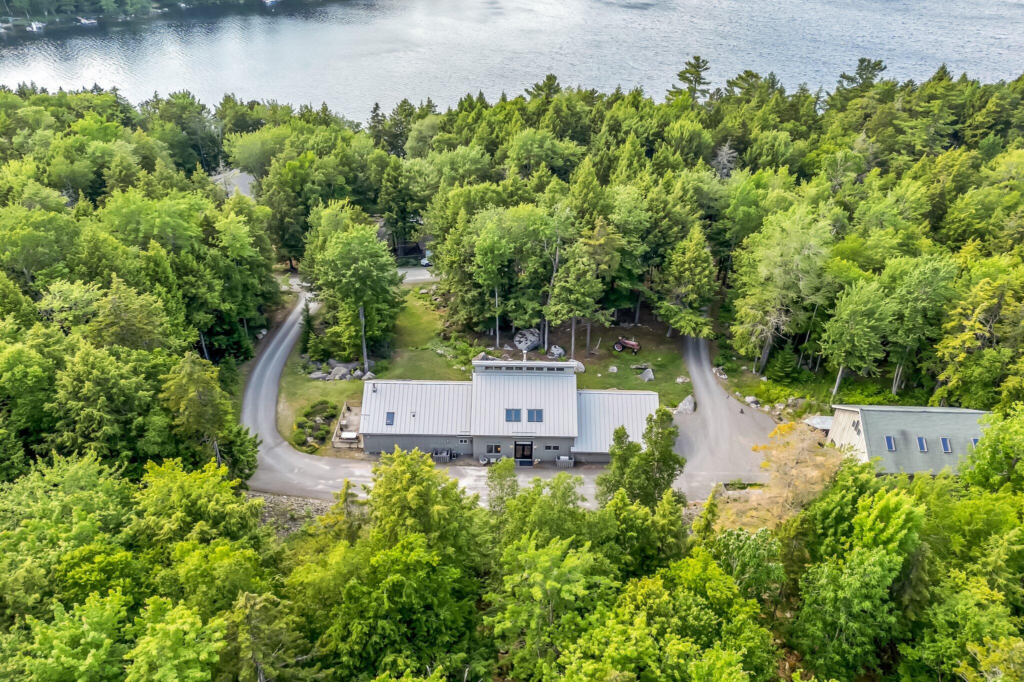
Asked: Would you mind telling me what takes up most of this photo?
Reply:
trees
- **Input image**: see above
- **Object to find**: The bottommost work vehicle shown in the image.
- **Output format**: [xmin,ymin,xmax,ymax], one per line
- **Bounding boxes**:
[613,336,642,356]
